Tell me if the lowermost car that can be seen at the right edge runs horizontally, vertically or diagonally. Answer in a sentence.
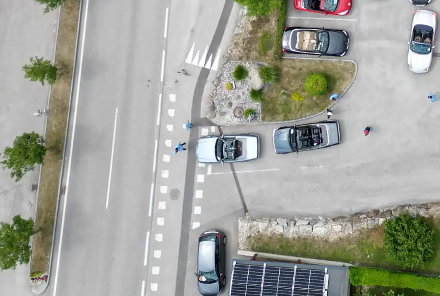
From this overhead view, the lowermost car that can be seen at the right edge appears to run vertically.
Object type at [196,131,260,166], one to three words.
car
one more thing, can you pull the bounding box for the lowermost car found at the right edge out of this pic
[405,9,438,73]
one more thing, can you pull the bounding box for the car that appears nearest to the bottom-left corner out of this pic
[191,230,229,296]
